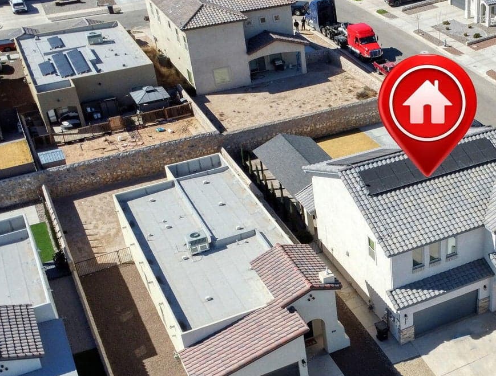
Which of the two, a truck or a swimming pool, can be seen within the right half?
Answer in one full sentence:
It is a truck that can be seen within the right half.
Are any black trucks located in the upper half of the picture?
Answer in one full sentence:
Yes, I can see a black truck in the upper half of the picture.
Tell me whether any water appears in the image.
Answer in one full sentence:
No, the picture contains no water.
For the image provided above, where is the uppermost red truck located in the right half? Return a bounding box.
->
[336,15,383,61]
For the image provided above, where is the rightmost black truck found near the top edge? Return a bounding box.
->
[305,0,346,37]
